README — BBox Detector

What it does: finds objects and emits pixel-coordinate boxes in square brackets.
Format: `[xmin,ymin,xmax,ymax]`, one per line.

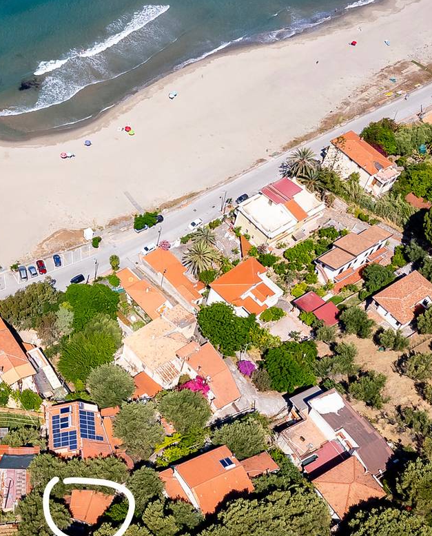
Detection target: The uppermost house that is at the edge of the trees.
[326,130,401,192]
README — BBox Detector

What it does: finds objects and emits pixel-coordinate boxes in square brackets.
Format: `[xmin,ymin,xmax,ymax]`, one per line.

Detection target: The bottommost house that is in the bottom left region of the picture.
[65,490,114,528]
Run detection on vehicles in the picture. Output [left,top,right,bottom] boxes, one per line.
[233,194,250,204]
[134,224,152,235]
[51,255,62,269]
[26,264,39,279]
[36,260,48,276]
[150,214,168,226]
[139,242,157,255]
[186,218,205,230]
[68,274,86,285]
[16,266,29,281]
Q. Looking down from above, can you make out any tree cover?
Yes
